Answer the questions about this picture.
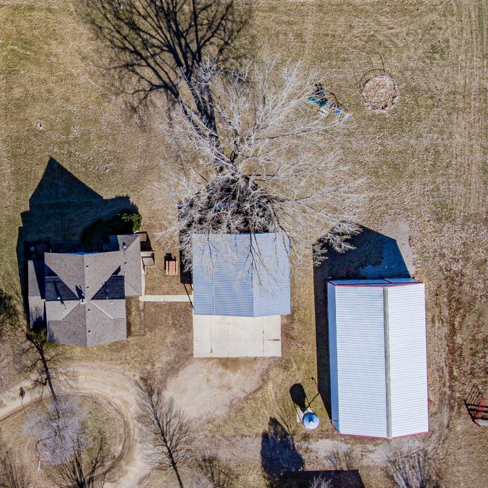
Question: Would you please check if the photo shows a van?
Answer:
No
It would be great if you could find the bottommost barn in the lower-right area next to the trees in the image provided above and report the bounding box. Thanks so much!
[327,277,429,440]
